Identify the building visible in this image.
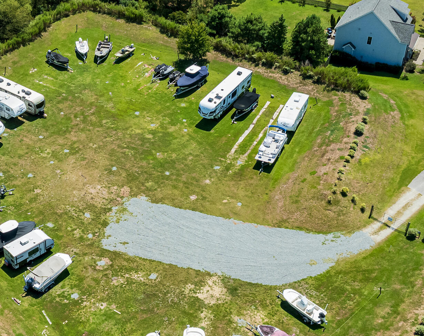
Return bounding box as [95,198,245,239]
[331,0,421,66]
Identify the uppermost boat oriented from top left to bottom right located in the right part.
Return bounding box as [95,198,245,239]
[283,289,327,329]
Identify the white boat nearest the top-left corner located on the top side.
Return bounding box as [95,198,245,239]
[76,37,89,54]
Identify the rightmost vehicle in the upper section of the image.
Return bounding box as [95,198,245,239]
[276,93,309,141]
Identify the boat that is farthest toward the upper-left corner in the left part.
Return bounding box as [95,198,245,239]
[45,49,69,63]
